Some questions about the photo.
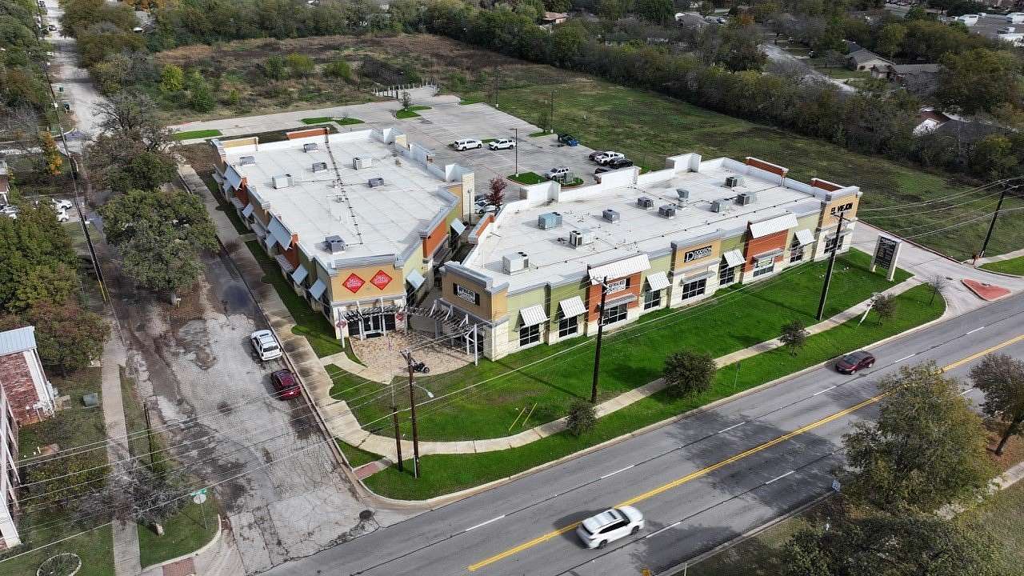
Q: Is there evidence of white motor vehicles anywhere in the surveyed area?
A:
Yes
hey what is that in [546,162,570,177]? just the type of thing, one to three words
car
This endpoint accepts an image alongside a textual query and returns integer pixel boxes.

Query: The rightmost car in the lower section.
[829,348,873,374]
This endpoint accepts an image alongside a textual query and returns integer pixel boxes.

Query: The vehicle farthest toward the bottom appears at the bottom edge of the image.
[575,506,642,551]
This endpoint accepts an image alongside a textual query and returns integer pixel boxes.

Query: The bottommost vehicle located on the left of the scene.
[270,370,303,401]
